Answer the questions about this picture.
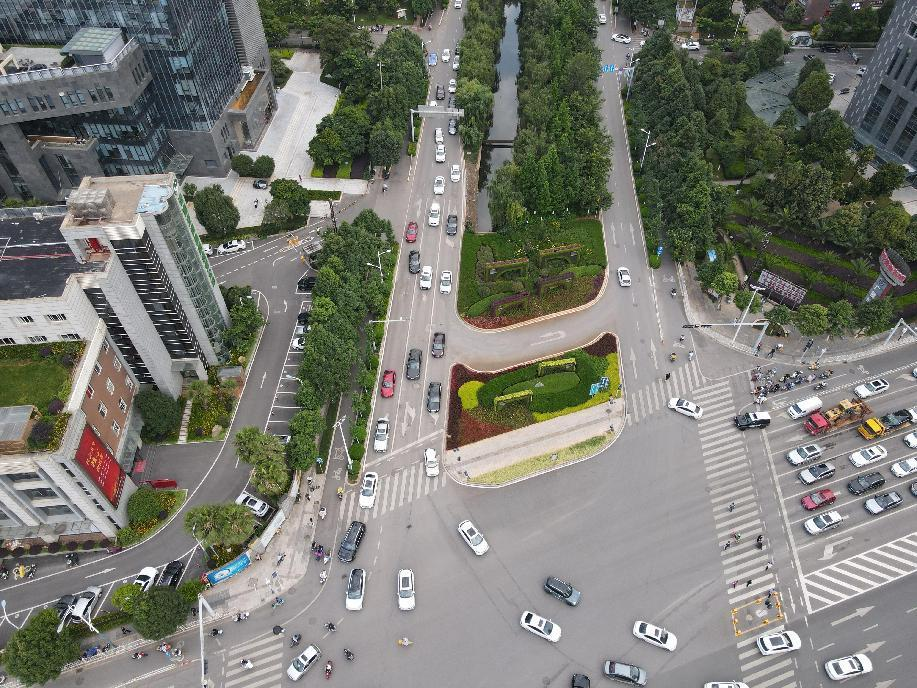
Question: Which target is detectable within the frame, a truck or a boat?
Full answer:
There is a truck in the scene.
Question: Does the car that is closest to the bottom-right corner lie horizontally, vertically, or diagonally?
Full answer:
The car that is closest to the bottom-right corner is laid out horizontally.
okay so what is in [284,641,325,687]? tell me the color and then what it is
white car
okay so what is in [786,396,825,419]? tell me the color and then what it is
white vehicle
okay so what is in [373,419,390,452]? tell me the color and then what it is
white car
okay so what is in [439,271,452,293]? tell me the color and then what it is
white vehicle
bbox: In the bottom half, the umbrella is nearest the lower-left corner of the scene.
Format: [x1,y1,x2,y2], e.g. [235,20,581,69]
[269,619,283,633]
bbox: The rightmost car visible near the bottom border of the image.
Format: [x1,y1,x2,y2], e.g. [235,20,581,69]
[822,653,874,681]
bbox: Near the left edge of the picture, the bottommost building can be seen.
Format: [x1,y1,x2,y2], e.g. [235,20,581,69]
[0,168,236,554]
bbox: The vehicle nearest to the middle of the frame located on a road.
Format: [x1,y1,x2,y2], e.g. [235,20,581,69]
[431,333,445,358]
